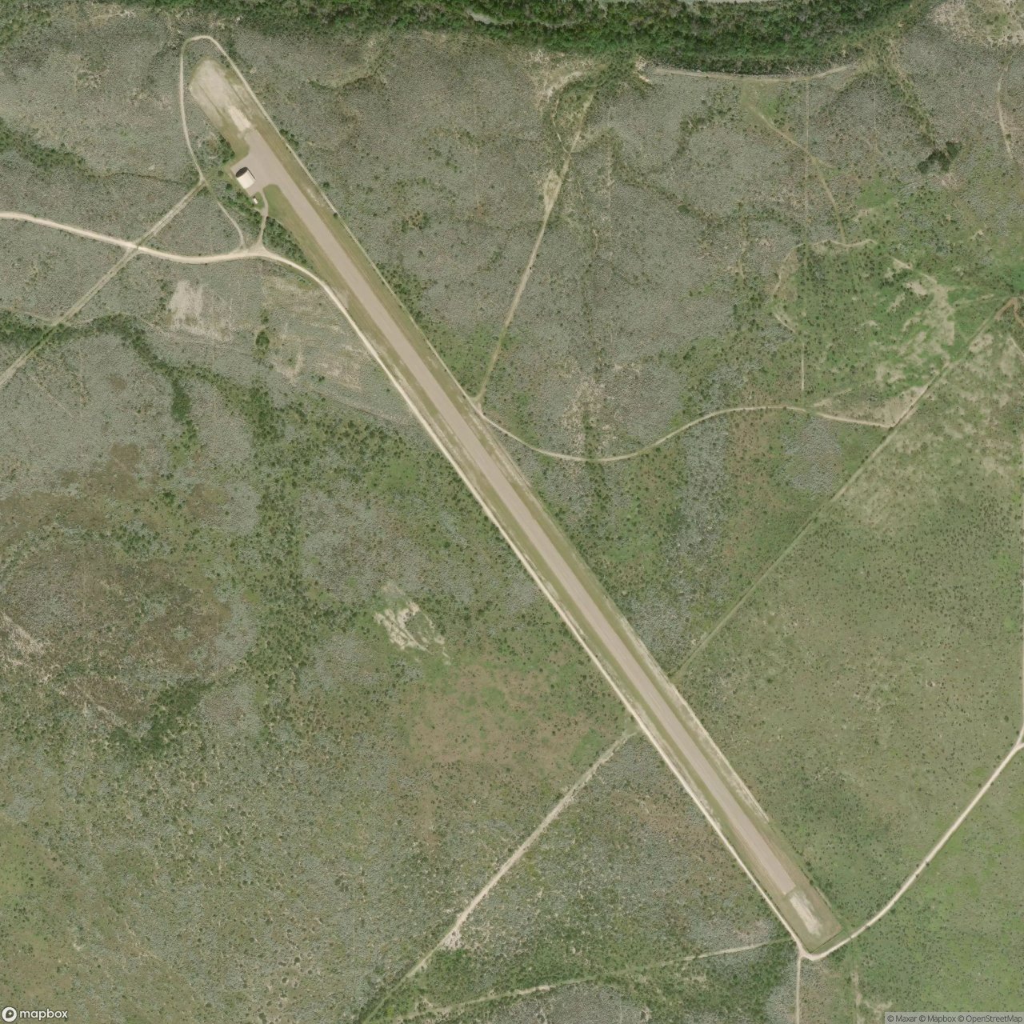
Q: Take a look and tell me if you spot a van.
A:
No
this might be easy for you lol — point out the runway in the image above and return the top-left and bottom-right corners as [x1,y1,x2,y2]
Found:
[231,130,796,894]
